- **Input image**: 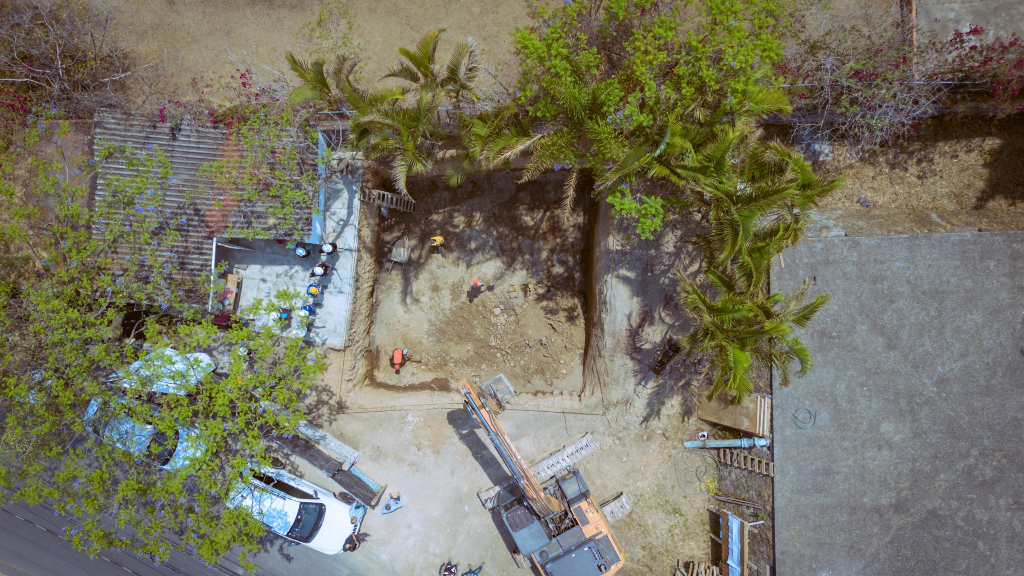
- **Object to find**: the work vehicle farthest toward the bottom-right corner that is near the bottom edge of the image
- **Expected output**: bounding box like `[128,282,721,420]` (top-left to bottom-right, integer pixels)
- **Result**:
[460,369,635,576]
